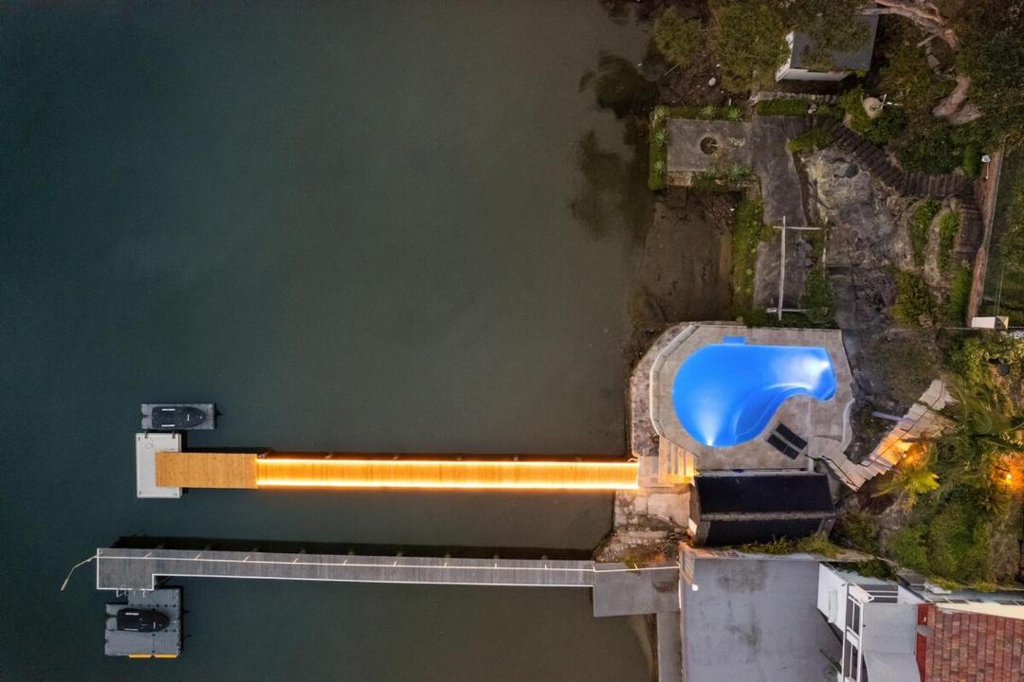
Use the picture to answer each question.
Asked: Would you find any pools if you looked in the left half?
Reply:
No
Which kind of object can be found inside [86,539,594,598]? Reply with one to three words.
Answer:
pier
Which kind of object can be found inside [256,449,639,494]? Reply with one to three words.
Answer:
pier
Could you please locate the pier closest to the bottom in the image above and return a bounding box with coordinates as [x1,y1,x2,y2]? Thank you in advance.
[105,586,190,658]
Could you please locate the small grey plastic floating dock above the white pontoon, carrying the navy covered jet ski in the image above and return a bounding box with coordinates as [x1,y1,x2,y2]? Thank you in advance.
[142,403,221,429]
